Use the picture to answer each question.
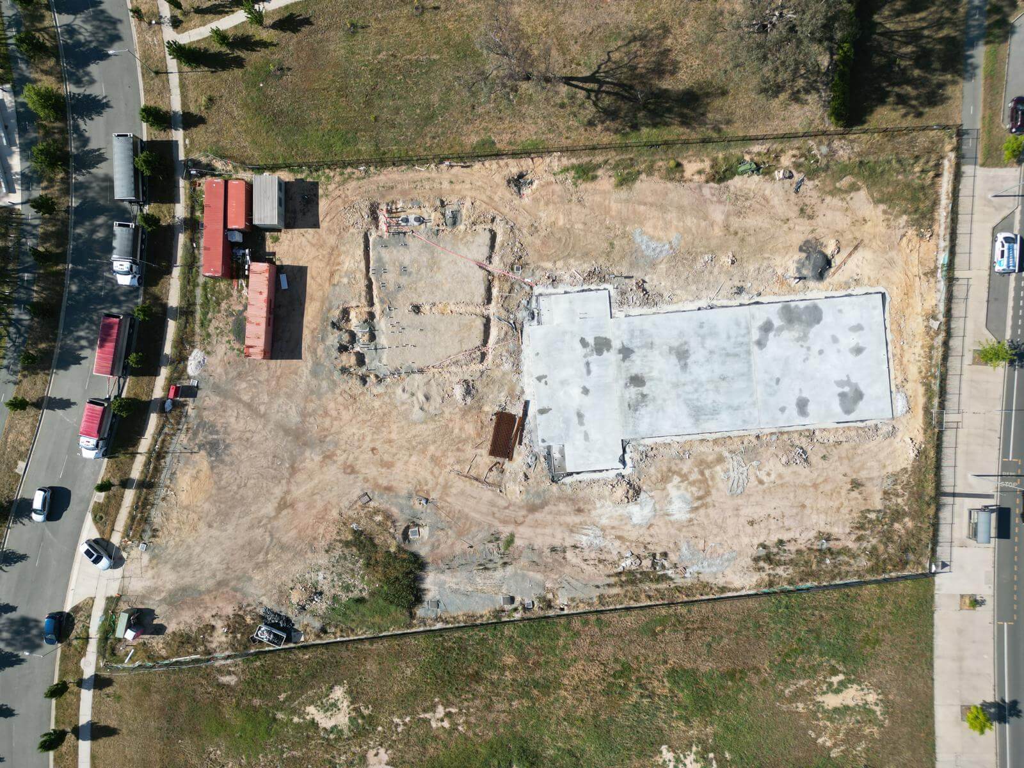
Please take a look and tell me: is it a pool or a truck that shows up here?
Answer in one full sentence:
This aerial view contains a truck.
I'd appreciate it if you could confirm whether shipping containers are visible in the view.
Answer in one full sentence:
Yes, a shipping container can be made out from above.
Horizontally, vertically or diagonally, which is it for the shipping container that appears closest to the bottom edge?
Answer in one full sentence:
Seen from above, the shipping container that appears closest to the bottom edge lies vertically.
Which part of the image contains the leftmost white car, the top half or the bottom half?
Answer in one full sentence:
The bottom half of the photo is where the leftmost white car is.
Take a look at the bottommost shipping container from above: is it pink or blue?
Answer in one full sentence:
The bottommost shipping container is pink.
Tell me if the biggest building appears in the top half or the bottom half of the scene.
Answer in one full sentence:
The biggest building is in the top half of the image.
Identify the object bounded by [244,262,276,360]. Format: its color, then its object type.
pink shipping container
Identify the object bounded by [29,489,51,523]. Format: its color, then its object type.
white car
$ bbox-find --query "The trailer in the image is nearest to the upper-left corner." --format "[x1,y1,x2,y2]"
[113,133,146,222]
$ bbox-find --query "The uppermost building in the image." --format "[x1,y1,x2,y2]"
[253,172,284,228]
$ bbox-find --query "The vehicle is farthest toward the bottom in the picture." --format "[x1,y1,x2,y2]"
[44,611,65,644]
